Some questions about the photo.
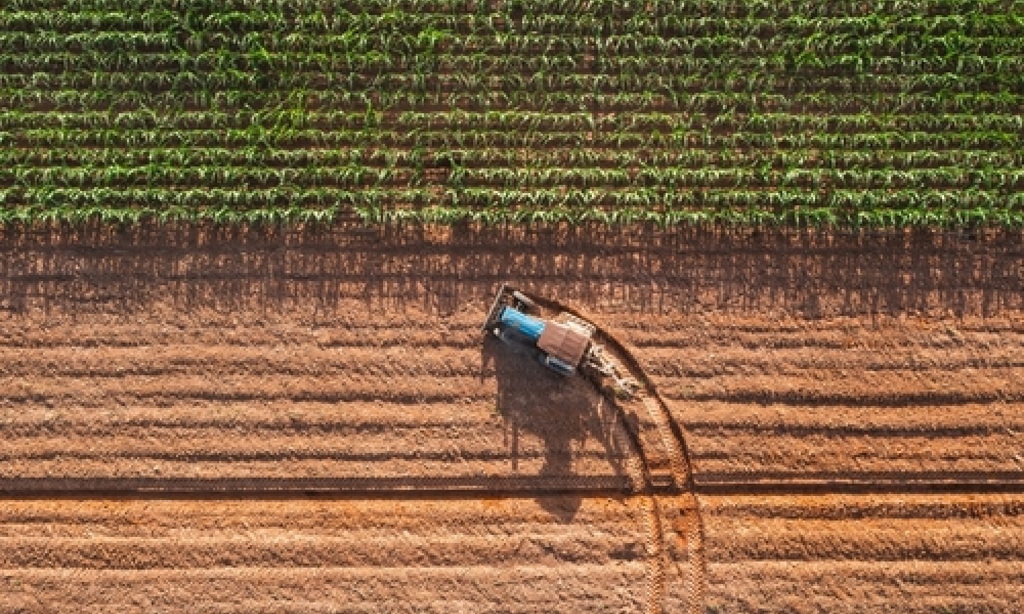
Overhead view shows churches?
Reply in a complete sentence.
No, there's no church here.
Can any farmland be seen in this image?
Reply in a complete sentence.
Yes, there is farmland in the image.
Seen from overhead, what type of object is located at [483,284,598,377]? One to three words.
work vehicle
